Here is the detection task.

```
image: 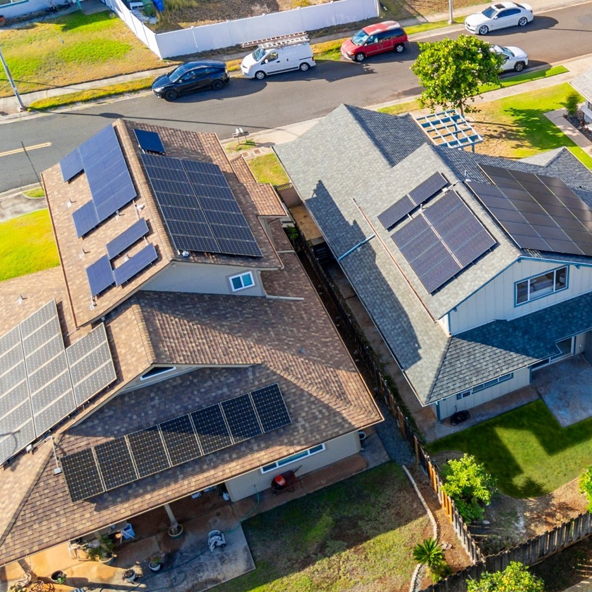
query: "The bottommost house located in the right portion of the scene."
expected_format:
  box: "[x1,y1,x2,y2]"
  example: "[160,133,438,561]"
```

[267,104,592,422]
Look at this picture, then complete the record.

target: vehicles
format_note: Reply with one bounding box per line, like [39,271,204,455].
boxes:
[241,33,318,80]
[456,41,531,73]
[464,1,537,35]
[150,59,232,103]
[338,19,411,63]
